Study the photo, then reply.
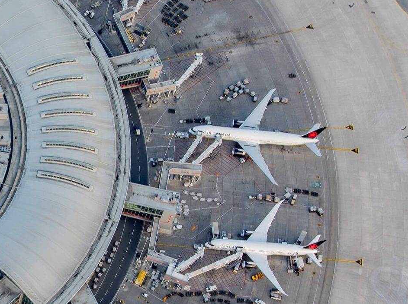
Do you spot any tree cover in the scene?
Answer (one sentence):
No, there's no tree cover in this view.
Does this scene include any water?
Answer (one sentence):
No, the picture contains no water.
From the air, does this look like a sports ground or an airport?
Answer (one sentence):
The area seen from above is an airport.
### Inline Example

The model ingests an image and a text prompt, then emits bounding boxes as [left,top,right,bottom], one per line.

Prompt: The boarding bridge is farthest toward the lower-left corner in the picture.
[173,246,205,273]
